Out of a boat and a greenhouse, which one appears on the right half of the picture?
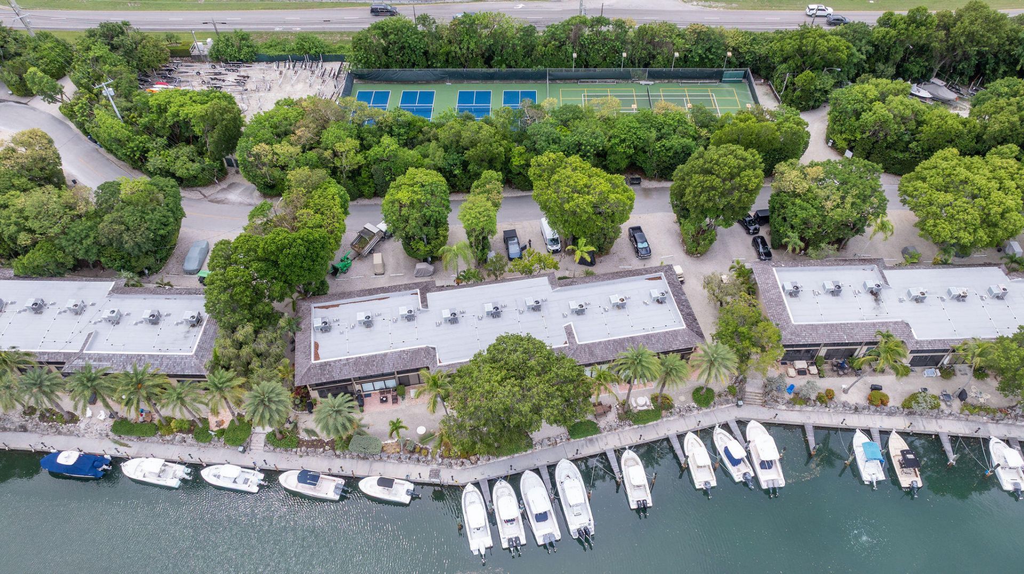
boat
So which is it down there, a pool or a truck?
truck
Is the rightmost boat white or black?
white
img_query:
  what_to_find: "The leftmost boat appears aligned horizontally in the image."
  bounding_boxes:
[40,452,119,481]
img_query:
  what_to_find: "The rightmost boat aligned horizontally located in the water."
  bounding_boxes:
[359,478,423,507]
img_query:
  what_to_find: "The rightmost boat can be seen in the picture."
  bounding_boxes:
[987,438,1024,501]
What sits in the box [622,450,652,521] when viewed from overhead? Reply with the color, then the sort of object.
white boat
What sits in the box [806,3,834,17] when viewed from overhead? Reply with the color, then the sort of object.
white car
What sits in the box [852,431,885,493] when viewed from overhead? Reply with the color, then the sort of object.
white boat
